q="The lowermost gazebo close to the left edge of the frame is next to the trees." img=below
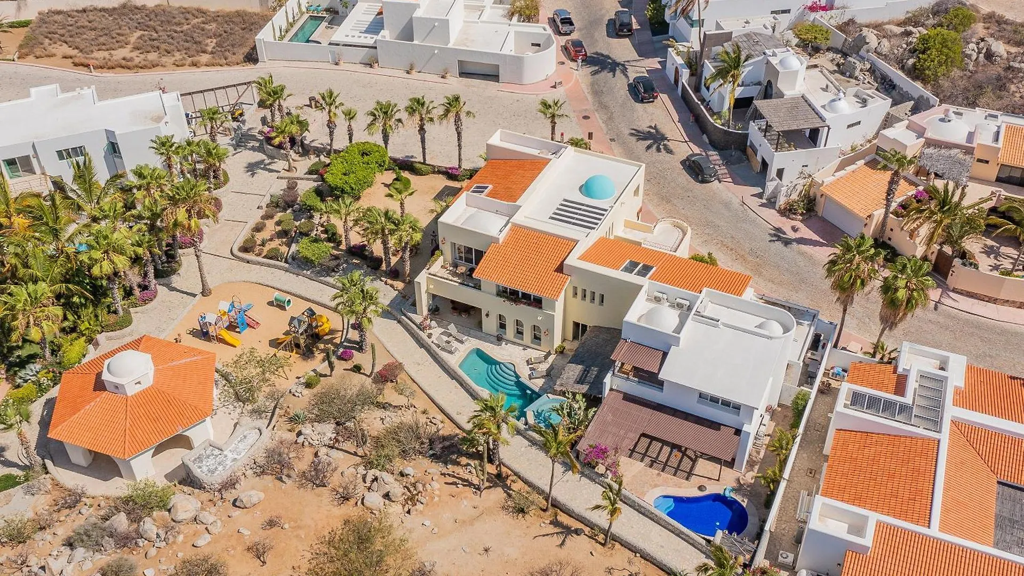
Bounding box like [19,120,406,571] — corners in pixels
[47,333,217,486]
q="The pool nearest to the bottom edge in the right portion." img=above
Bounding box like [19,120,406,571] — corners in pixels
[644,485,759,545]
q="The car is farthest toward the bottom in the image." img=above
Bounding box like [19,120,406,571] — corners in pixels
[683,152,723,182]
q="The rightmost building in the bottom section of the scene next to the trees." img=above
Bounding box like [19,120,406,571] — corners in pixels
[794,342,1024,576]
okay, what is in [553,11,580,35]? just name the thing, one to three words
truck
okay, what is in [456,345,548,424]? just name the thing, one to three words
swimming pool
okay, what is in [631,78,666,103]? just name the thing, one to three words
car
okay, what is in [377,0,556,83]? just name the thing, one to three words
house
